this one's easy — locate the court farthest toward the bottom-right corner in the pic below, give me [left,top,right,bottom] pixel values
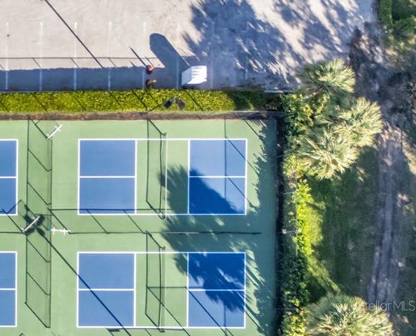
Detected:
[189,254,245,327]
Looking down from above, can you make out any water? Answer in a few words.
No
